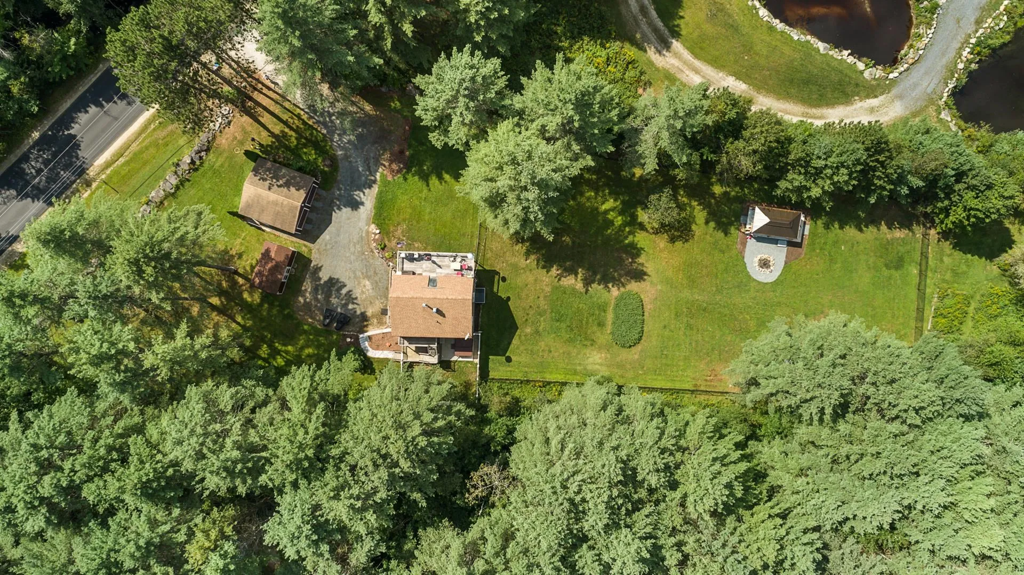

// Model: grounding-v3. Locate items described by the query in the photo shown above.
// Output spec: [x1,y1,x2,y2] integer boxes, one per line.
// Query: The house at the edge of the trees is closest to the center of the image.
[388,251,485,367]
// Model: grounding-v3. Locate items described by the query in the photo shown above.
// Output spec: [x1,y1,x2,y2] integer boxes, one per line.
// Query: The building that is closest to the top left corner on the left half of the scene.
[239,158,319,233]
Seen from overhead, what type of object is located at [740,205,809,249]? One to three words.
gazebo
